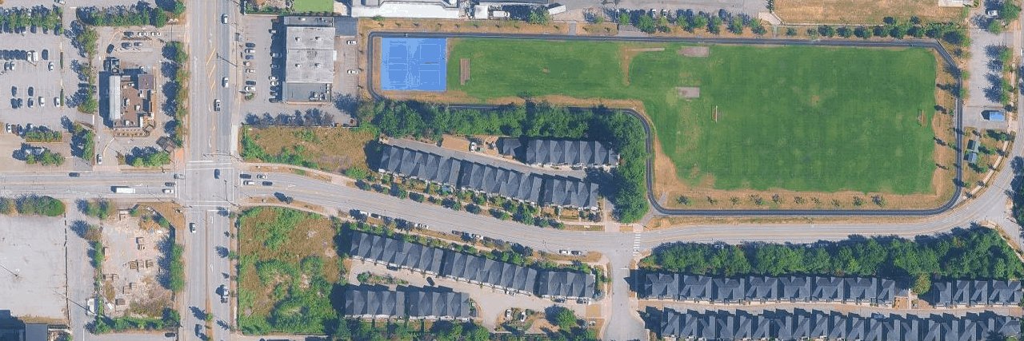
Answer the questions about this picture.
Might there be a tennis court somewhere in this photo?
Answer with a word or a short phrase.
Yes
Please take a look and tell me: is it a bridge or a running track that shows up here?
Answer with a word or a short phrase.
running track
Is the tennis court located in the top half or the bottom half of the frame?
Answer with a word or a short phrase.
top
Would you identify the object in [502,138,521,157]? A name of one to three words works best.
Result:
house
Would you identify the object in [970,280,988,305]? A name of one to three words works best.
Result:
house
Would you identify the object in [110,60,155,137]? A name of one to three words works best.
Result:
building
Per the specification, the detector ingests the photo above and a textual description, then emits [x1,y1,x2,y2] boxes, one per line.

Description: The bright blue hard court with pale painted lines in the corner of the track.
[380,38,447,92]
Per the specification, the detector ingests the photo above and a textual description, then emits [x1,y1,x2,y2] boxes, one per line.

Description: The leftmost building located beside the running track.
[283,17,338,104]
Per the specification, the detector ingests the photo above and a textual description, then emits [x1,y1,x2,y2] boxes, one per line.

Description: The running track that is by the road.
[366,31,964,216]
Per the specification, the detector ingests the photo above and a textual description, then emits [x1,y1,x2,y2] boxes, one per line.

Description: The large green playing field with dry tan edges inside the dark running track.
[373,37,958,210]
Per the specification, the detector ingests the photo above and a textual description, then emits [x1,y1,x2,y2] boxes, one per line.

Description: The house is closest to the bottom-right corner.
[995,317,1022,338]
